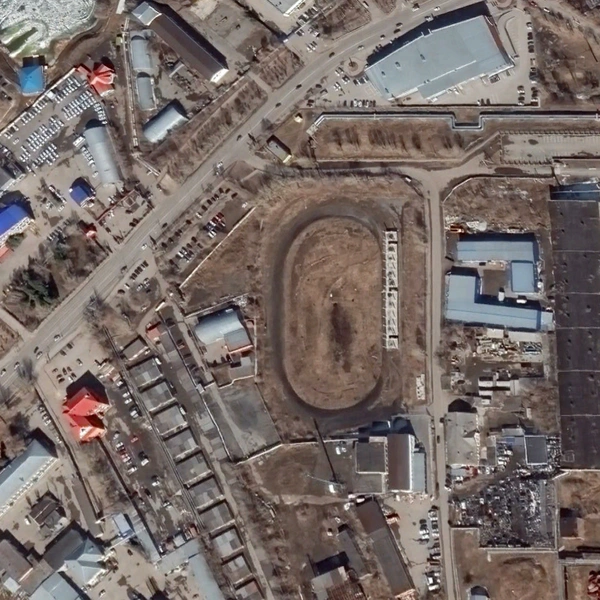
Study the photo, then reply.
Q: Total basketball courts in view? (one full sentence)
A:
There are no basketball courts in the image.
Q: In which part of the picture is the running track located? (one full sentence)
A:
The running track appears toward the center of the photo.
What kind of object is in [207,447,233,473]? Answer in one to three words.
building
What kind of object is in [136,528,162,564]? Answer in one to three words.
shed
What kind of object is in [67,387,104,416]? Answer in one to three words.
house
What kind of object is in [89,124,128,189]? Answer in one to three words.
hangar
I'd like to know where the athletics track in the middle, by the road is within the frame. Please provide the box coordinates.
[270,203,400,426]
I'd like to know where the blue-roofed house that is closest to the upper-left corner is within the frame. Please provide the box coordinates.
[20,66,48,94]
